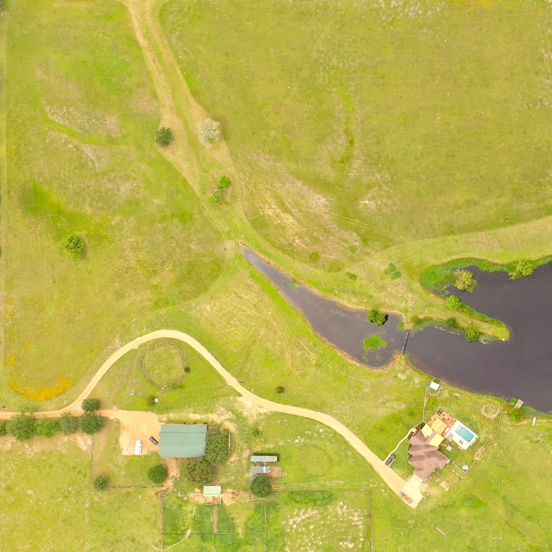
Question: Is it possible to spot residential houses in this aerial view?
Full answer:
Yes, I can see a residential house in this picture.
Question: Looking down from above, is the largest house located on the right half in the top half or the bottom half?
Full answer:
The bottom half of the photo is where the largest house located on the right half is.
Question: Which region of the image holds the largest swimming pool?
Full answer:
The largest swimming pool is located in the bottom right region of the scene.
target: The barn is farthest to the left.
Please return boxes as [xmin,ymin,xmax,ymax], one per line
[158,424,208,458]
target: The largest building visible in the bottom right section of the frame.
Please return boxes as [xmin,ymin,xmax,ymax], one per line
[407,418,449,482]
